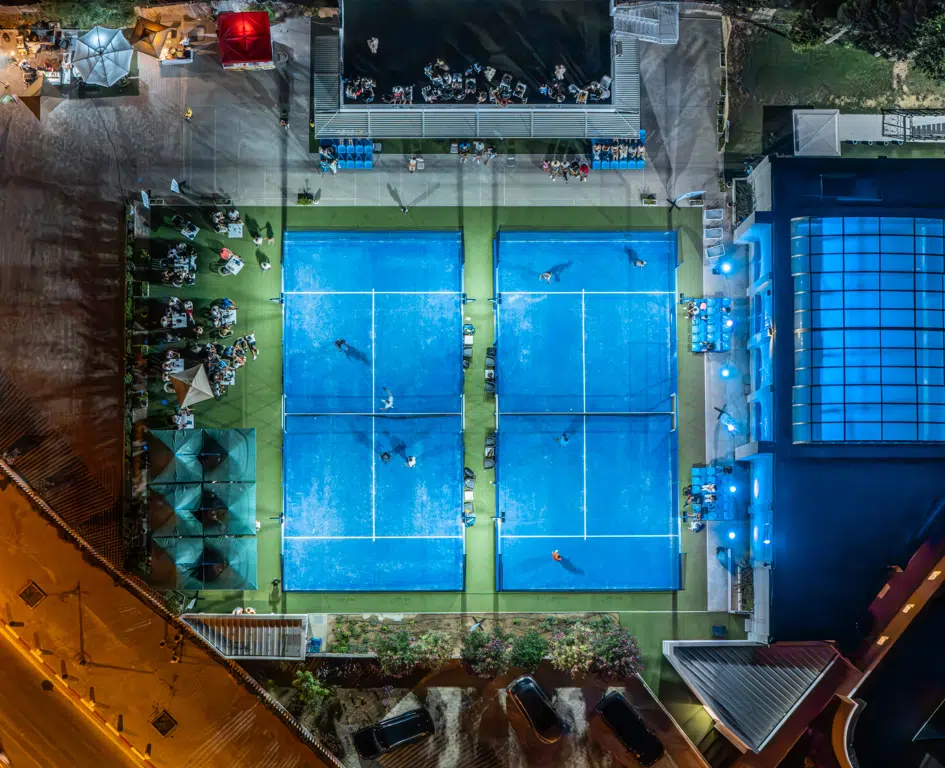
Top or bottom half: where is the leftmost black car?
bottom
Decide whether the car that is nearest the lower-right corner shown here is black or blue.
black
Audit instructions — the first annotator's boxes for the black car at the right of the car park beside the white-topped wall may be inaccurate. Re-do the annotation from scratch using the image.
[592,689,667,768]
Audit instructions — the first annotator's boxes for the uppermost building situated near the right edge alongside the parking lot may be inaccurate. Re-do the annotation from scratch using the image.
[735,154,945,643]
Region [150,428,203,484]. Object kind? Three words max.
tent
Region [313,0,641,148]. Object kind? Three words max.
building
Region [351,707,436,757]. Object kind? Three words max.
car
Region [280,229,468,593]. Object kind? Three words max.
sports court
